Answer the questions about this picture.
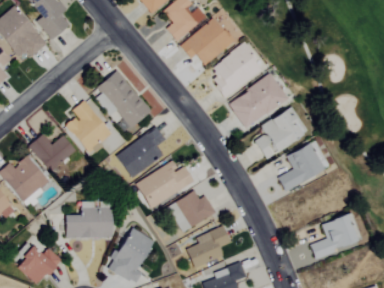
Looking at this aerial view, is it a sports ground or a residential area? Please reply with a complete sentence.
This looks like a residential area.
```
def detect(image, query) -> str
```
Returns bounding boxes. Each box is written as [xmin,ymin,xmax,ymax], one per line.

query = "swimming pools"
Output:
[38,187,58,206]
